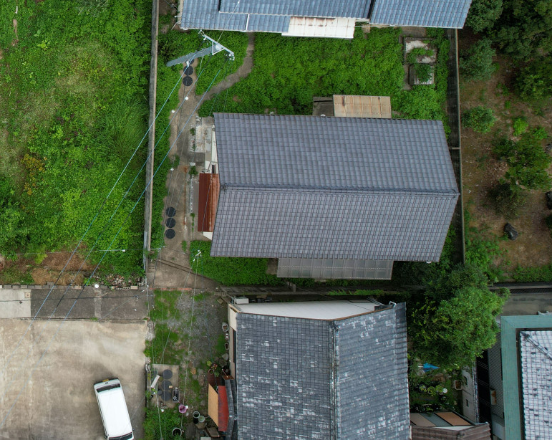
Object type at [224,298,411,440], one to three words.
house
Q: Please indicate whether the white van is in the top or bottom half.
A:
bottom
